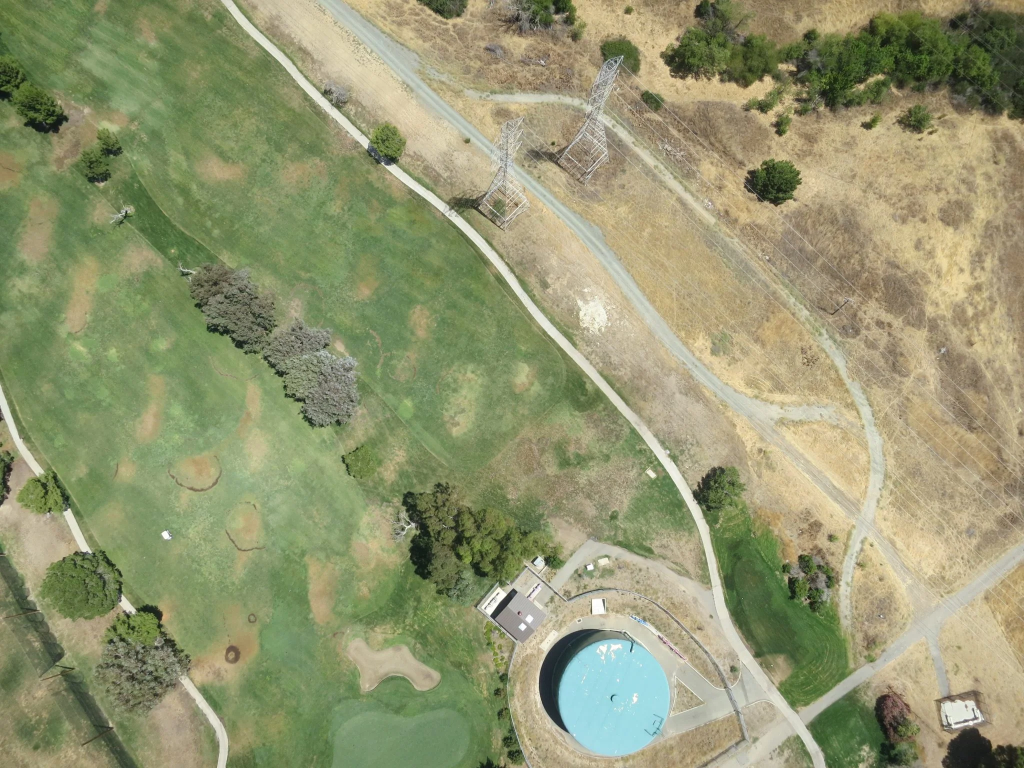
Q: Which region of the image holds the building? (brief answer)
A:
bottom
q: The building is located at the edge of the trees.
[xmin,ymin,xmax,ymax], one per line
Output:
[495,590,546,644]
